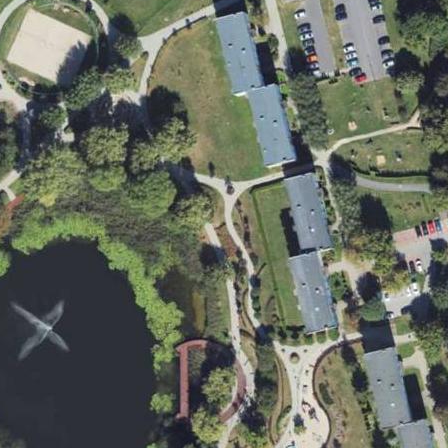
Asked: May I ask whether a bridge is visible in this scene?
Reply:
No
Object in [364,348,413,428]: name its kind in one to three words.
building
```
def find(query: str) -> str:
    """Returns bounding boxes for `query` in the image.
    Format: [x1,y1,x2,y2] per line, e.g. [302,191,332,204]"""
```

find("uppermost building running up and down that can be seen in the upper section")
[216,13,263,96]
